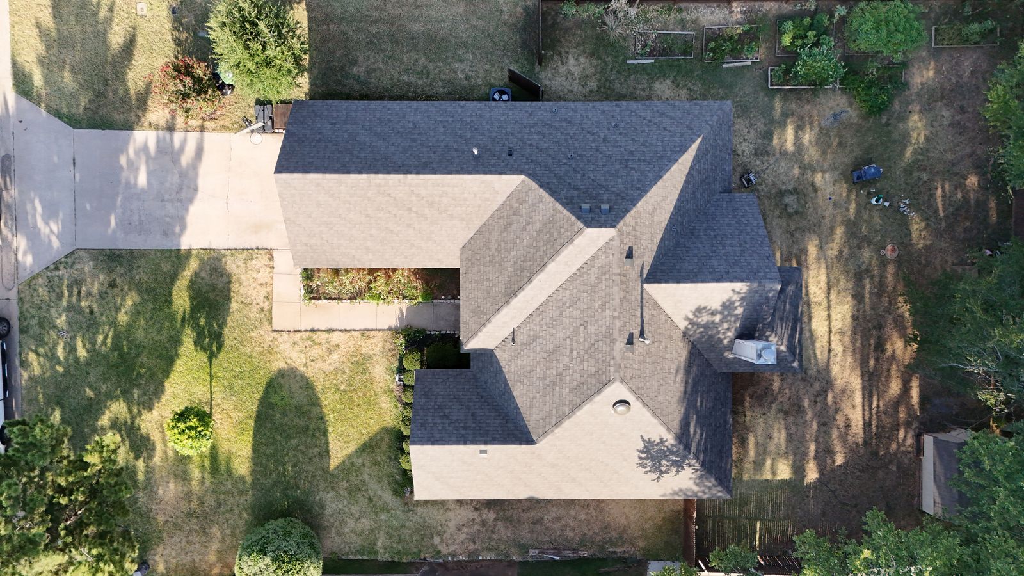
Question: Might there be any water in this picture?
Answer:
No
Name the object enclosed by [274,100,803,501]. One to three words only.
house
